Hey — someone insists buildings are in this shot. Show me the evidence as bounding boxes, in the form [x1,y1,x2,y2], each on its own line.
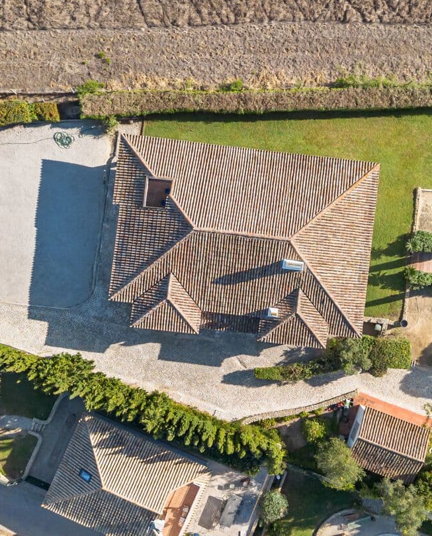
[102,132,381,350]
[43,416,212,536]
[347,403,432,486]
